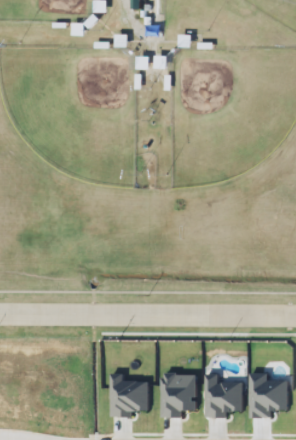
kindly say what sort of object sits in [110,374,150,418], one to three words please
house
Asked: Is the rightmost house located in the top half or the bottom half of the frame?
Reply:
bottom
